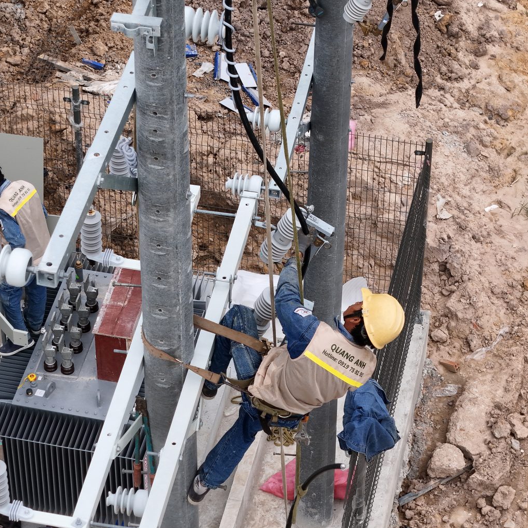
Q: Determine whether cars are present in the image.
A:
No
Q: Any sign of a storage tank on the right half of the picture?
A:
No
